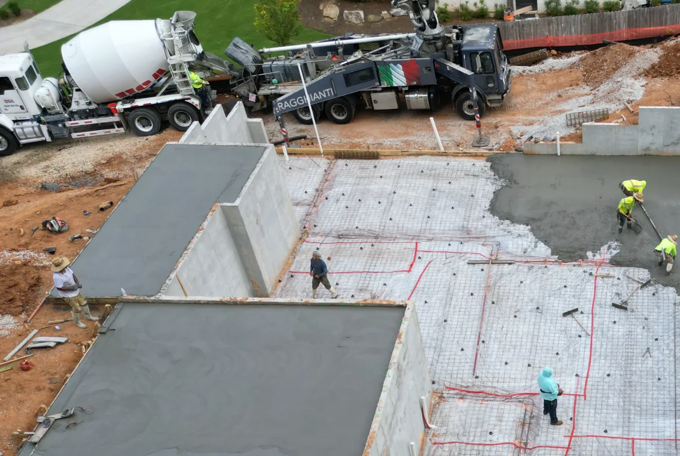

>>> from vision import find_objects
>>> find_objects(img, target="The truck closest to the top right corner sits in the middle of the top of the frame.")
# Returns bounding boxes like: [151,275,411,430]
[212,0,514,145]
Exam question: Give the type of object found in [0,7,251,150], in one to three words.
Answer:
truck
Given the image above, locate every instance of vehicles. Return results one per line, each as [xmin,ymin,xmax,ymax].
[212,0,514,145]
[0,7,251,150]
